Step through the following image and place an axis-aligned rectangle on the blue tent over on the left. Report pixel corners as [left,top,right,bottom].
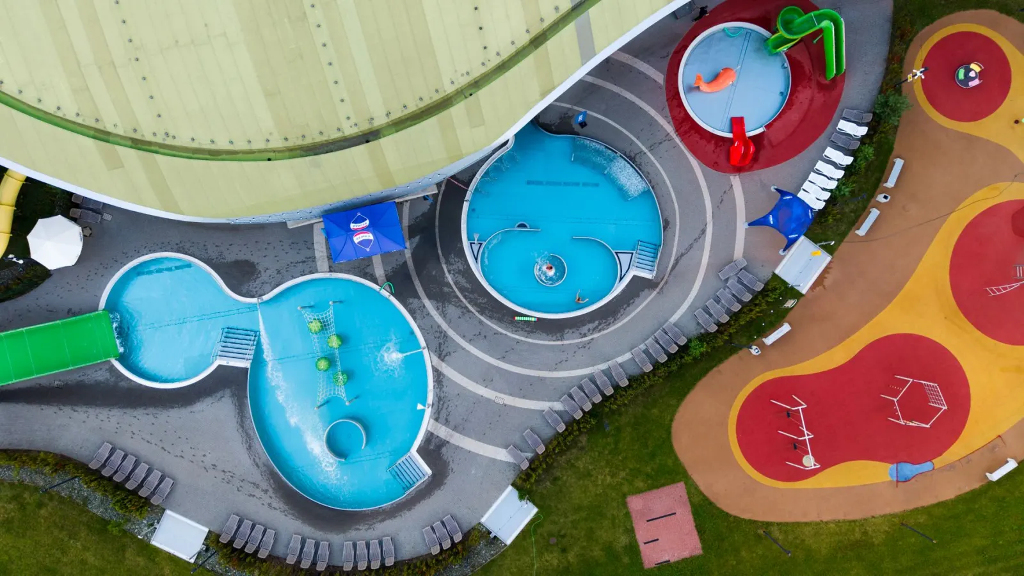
[323,201,412,265]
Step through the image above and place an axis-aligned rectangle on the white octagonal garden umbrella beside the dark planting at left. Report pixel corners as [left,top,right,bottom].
[27,215,85,270]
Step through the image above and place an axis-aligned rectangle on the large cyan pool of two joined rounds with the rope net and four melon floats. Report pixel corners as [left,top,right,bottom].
[100,252,434,511]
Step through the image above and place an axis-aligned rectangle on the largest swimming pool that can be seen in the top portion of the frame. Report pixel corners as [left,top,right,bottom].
[461,117,664,319]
